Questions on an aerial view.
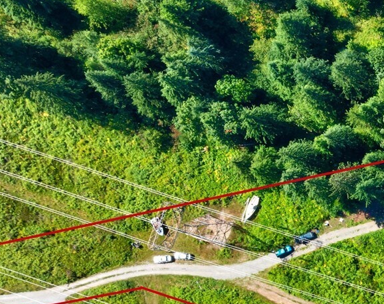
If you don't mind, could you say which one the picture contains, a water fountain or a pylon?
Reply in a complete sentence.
It is a pylon that can be seen here.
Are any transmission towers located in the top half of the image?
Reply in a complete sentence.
No, no transmission tower appears in the top half of the image.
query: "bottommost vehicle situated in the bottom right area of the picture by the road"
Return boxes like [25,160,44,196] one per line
[274,244,294,259]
